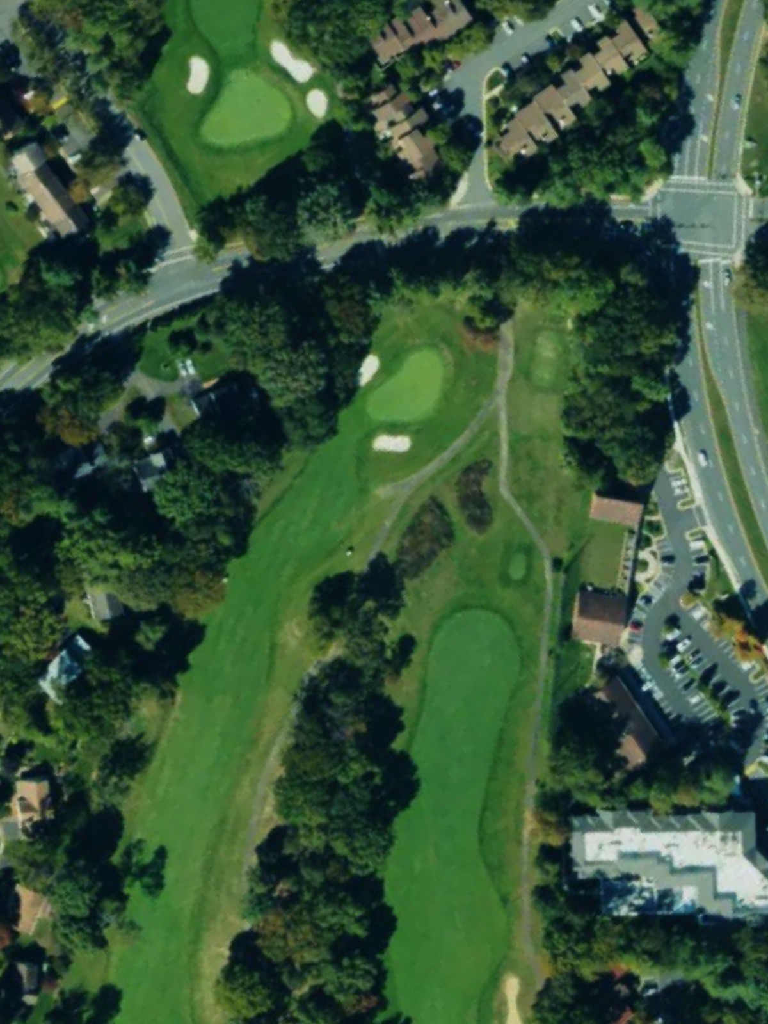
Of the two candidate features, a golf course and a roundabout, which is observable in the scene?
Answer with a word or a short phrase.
golf course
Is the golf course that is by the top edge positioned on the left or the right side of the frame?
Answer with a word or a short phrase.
left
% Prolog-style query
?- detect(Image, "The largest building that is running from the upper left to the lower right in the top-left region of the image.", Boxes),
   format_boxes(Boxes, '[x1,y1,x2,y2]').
[11,141,88,238]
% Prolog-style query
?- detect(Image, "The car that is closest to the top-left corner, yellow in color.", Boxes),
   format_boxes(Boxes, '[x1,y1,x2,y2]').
[51,97,67,109]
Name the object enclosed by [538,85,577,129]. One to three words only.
house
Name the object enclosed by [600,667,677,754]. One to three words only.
building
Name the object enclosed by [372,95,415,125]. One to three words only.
house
